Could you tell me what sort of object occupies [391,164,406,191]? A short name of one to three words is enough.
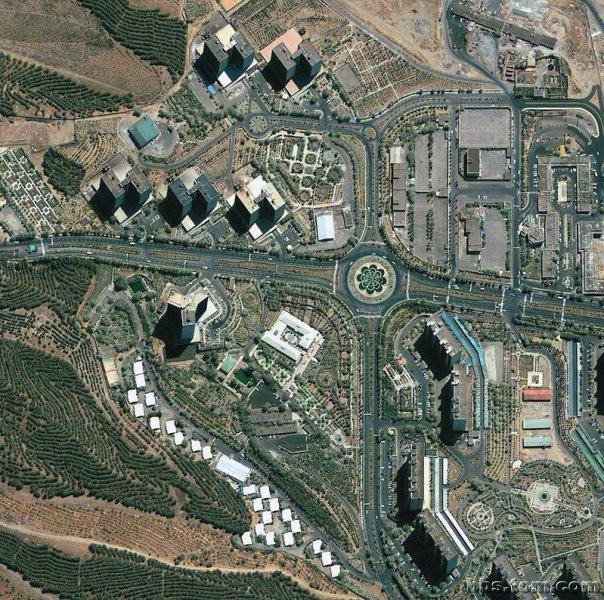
building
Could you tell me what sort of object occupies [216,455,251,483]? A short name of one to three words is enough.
building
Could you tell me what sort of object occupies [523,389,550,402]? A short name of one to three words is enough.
shed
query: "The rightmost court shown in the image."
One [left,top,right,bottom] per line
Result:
[488,341,504,382]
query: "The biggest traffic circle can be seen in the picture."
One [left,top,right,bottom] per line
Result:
[347,256,396,303]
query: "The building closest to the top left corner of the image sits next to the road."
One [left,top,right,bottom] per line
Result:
[127,114,160,151]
